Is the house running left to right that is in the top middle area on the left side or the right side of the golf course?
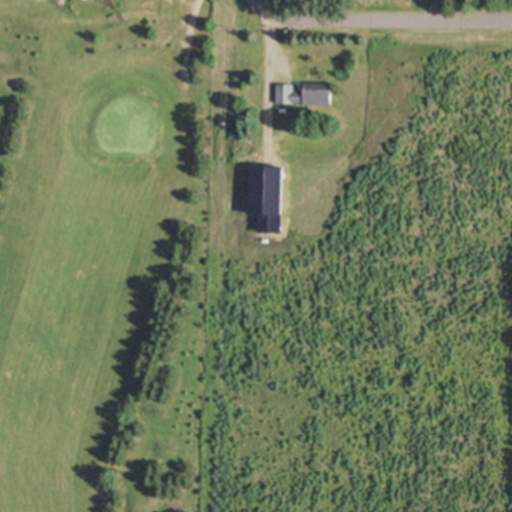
on the right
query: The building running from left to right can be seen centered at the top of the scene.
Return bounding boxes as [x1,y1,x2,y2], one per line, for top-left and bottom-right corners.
[276,82,332,106]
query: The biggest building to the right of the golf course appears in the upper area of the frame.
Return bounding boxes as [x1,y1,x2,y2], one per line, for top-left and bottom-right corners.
[248,166,285,232]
